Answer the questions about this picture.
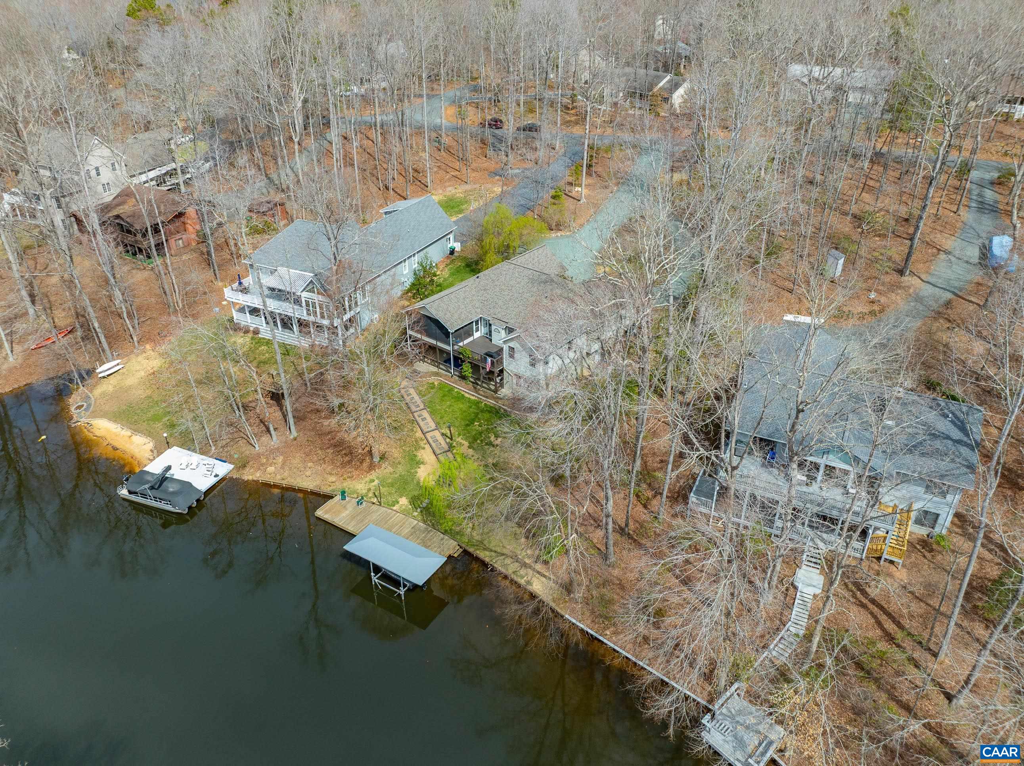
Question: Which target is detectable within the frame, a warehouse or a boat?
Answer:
boat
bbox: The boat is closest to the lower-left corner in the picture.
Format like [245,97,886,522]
[116,469,201,514]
